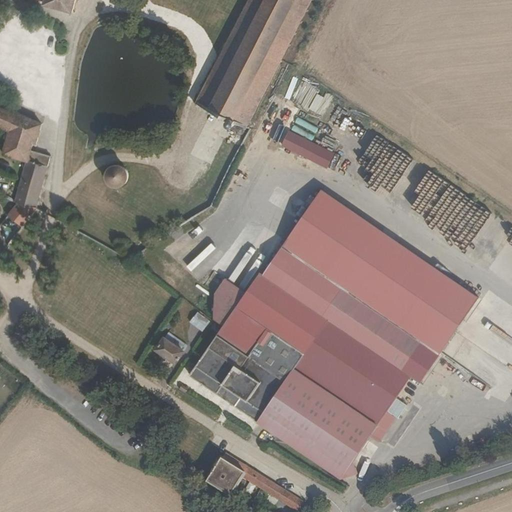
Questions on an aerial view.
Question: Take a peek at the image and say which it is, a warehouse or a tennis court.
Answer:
warehouse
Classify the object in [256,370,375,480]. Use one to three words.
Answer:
building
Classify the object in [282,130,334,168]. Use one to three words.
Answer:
shed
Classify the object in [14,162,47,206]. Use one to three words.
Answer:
house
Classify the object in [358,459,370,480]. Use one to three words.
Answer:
vehicle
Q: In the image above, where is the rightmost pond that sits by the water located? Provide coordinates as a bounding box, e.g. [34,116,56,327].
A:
[76,14,186,144]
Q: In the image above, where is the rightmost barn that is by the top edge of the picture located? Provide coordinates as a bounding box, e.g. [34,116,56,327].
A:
[196,0,308,124]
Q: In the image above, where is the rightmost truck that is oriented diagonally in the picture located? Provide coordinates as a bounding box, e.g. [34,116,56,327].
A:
[484,320,512,342]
